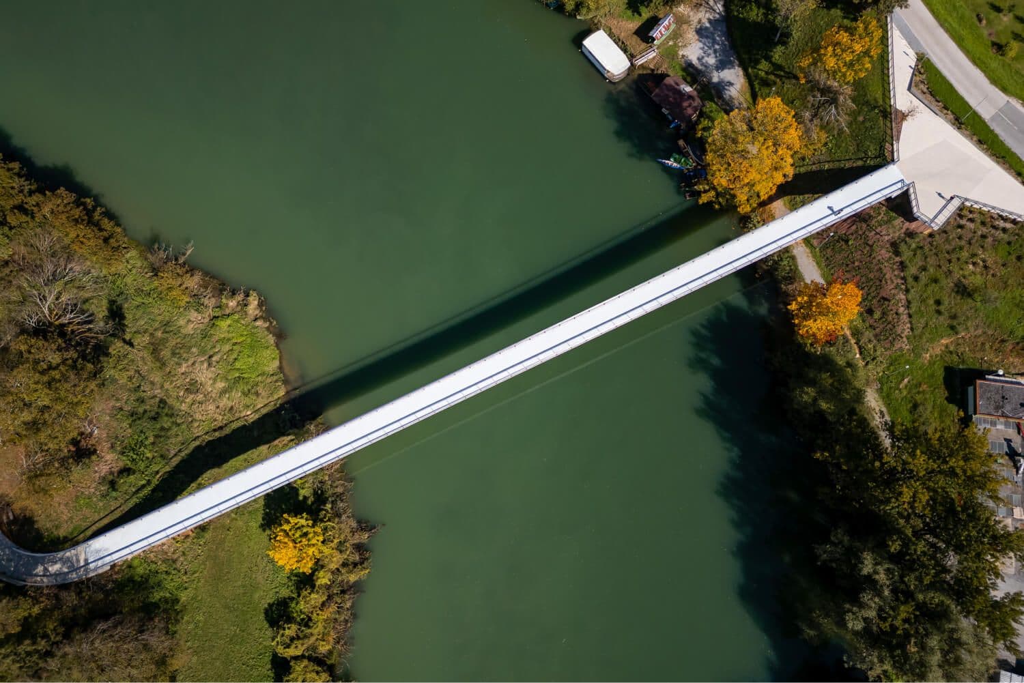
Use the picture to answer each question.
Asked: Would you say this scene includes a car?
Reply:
No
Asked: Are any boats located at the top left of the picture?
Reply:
No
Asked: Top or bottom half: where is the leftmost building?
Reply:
top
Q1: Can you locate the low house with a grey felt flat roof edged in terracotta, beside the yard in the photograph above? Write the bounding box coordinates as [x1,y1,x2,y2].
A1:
[962,379,1024,426]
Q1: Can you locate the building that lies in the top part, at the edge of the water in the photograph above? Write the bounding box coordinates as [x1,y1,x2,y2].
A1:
[639,71,702,128]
